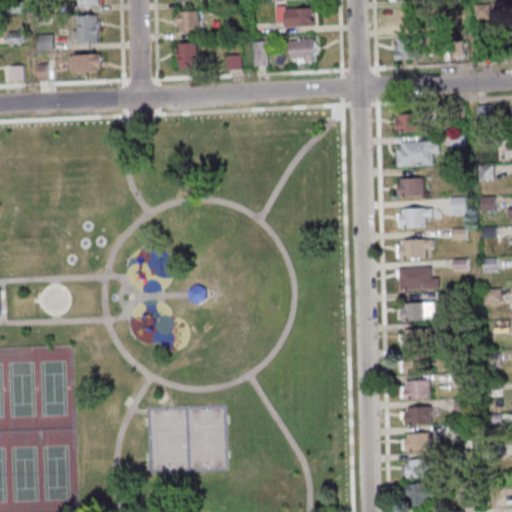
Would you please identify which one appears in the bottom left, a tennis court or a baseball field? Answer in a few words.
tennis court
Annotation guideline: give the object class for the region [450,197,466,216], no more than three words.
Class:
building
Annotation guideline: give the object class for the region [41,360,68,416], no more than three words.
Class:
tennis court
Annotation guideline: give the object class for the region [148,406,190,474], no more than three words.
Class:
basketball court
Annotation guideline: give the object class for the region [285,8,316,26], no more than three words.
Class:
house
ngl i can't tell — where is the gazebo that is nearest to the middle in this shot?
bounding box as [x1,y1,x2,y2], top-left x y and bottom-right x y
[188,284,207,305]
